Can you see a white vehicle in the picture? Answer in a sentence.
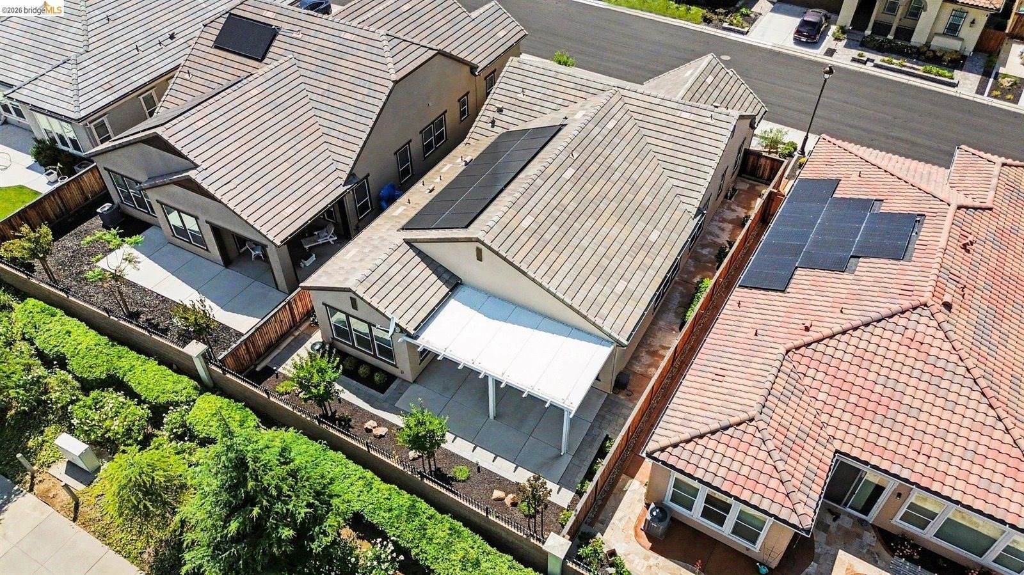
No, no white vehicle is visible in the scene.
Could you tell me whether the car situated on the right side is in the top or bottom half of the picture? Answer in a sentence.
The car situated on the right side is in the top half of the image.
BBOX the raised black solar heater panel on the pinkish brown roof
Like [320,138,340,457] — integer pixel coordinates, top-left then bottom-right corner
[209,14,287,64]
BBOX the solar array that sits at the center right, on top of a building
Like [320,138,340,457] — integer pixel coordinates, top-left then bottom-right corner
[741,176,924,288]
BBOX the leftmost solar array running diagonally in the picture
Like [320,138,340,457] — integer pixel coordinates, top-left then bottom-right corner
[402,123,566,229]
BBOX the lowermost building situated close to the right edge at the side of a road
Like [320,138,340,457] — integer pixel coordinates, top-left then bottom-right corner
[642,133,1024,575]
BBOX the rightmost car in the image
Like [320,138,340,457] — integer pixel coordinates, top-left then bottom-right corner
[793,6,837,39]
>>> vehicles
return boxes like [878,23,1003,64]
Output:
[292,0,354,12]
[793,6,837,39]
